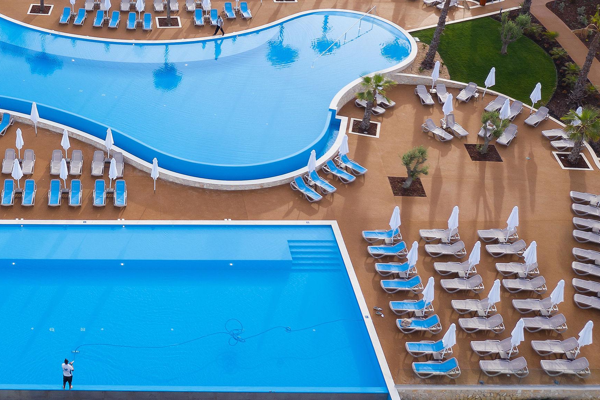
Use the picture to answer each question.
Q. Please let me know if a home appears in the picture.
No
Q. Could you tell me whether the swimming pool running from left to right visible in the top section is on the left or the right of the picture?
left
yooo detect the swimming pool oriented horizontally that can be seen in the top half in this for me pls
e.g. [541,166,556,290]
[0,23,407,169]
